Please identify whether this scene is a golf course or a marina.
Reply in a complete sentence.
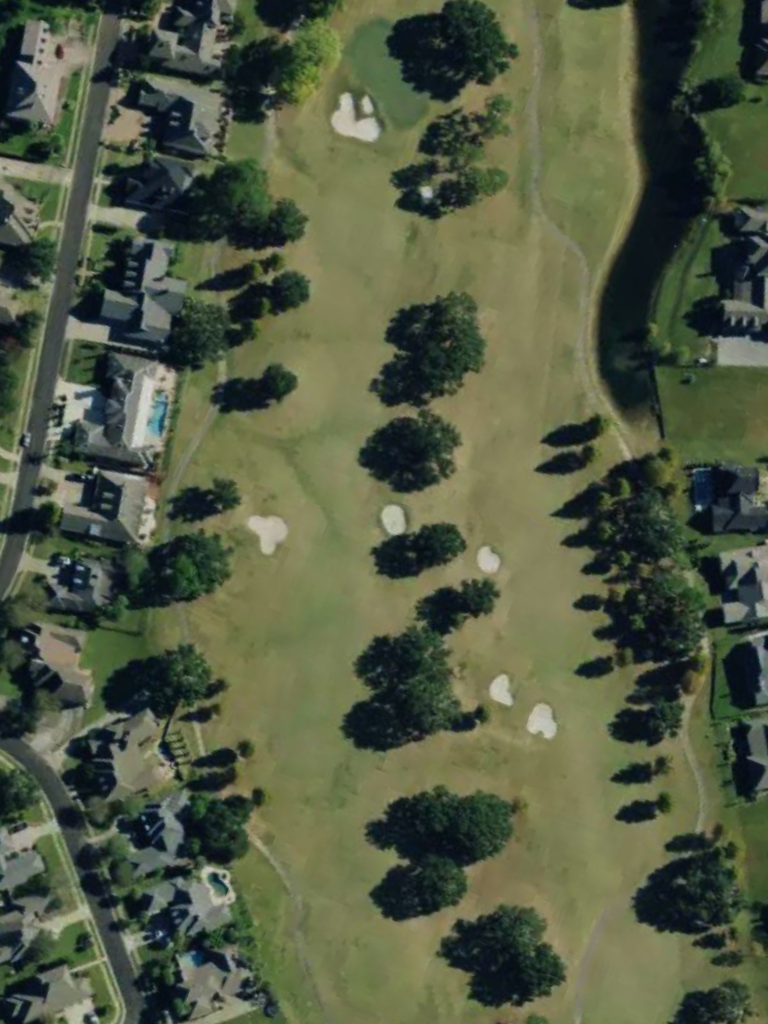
This image shows a golf course.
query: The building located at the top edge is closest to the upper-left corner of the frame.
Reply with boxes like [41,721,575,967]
[7,22,64,135]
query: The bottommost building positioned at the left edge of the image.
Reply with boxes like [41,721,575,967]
[1,958,98,1024]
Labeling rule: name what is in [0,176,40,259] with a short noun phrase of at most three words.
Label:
house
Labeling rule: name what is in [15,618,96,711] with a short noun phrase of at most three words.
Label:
house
